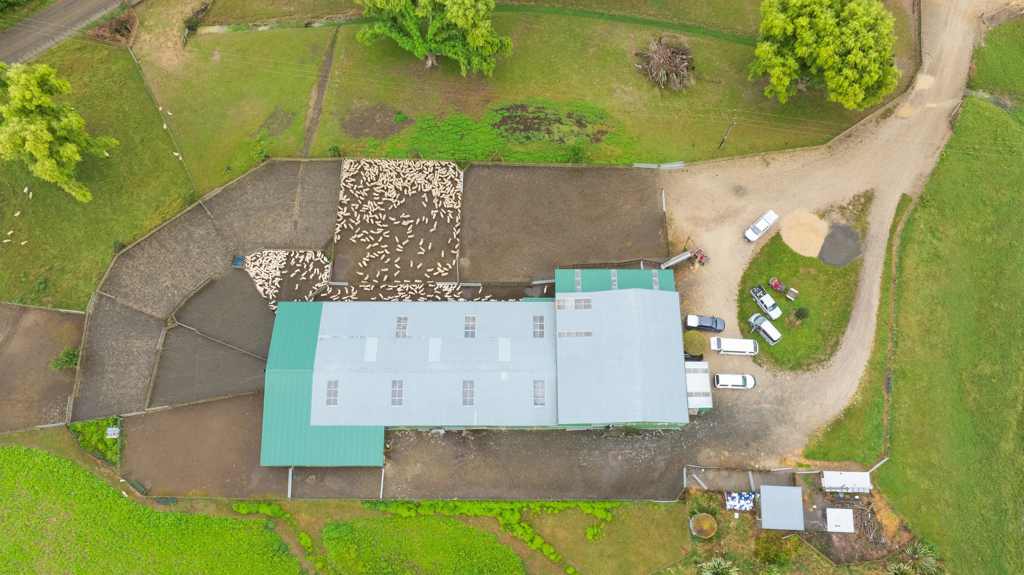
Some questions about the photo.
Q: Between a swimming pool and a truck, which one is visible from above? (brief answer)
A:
truck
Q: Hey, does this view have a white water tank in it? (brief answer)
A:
No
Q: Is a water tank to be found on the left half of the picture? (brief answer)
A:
No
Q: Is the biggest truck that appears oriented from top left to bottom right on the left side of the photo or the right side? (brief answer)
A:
right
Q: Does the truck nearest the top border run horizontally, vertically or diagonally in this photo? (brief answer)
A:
diagonally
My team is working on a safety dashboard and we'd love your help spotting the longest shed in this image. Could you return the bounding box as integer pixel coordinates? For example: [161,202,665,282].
[260,268,690,467]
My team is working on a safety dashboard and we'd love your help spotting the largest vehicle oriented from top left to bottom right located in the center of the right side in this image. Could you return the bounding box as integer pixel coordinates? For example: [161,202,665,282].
[748,284,782,321]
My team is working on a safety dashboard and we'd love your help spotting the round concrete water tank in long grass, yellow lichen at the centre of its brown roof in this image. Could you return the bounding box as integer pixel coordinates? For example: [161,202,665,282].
[687,509,717,540]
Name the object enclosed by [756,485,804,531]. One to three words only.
shed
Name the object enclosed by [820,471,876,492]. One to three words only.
building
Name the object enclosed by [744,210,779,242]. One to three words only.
truck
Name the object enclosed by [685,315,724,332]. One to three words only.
vehicle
